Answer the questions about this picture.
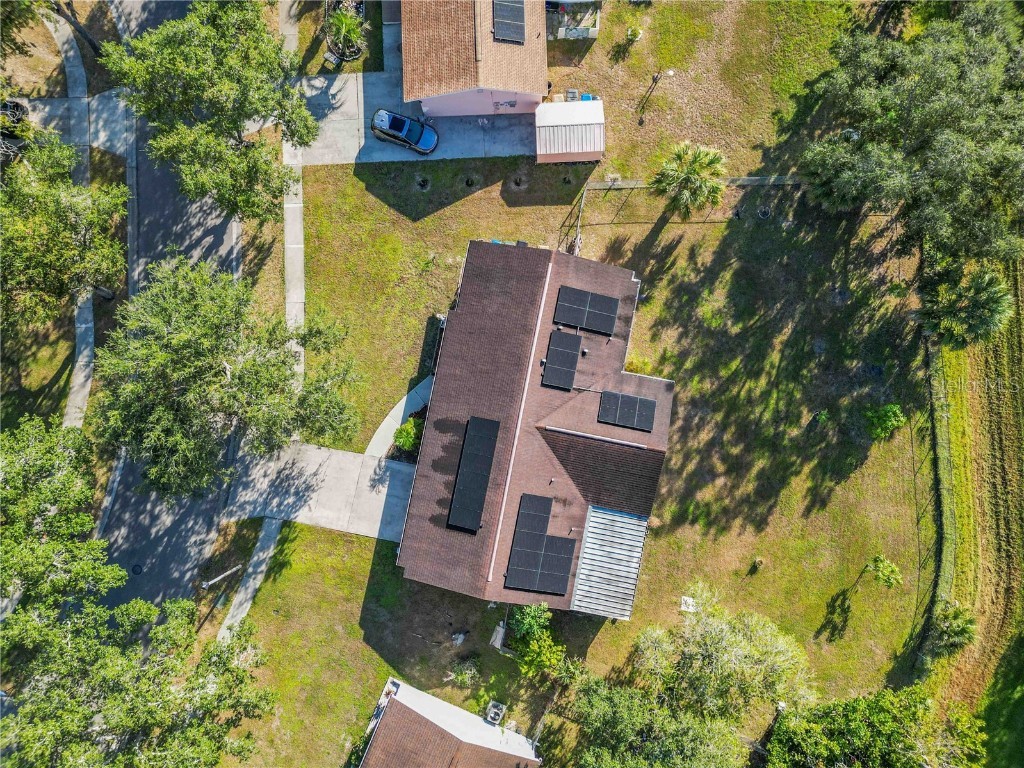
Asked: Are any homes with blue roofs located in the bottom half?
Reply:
No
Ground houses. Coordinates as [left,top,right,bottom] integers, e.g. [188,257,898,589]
[360,681,540,768]
[395,241,676,620]
[402,0,548,116]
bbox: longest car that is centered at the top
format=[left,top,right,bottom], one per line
[371,106,440,158]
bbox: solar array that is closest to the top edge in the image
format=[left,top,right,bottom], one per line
[493,0,524,44]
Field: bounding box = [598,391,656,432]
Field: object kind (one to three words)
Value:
solar array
